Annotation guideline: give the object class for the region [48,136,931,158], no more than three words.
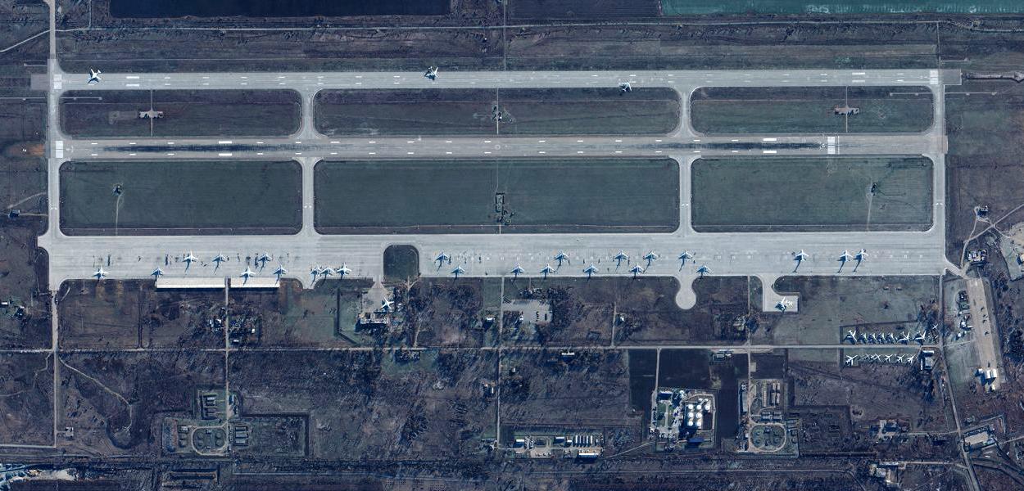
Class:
runway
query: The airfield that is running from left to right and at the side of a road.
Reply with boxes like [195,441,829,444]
[31,59,999,392]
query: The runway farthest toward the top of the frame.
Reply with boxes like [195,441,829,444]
[54,69,940,90]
